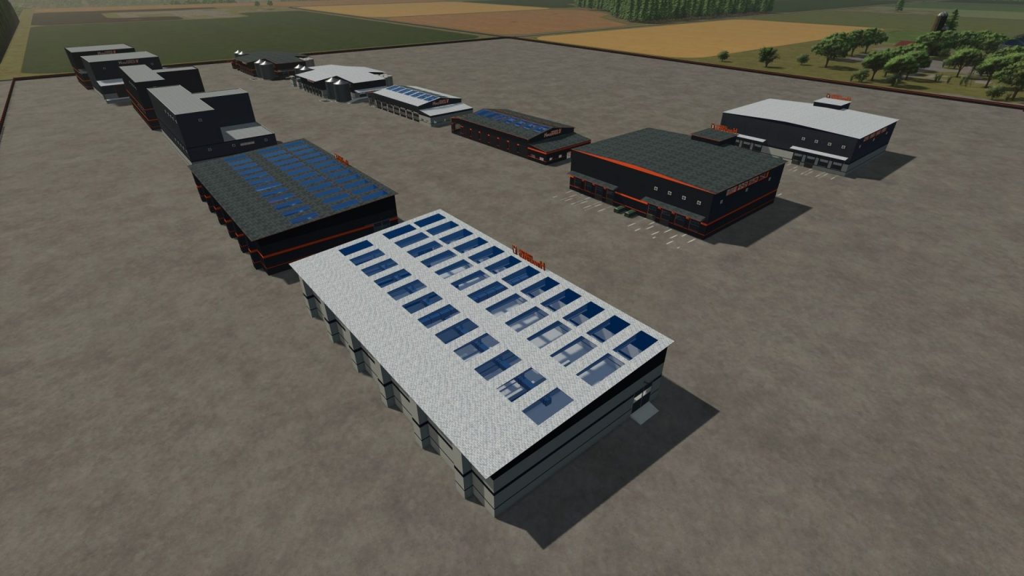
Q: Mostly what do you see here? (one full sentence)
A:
The scene is dominated by paved ground.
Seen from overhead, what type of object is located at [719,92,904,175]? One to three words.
building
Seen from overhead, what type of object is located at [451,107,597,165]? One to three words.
shed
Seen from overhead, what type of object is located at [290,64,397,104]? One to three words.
building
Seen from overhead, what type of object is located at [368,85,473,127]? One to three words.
shed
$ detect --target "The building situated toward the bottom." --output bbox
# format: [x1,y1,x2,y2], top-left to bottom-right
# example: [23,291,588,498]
[287,210,675,517]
